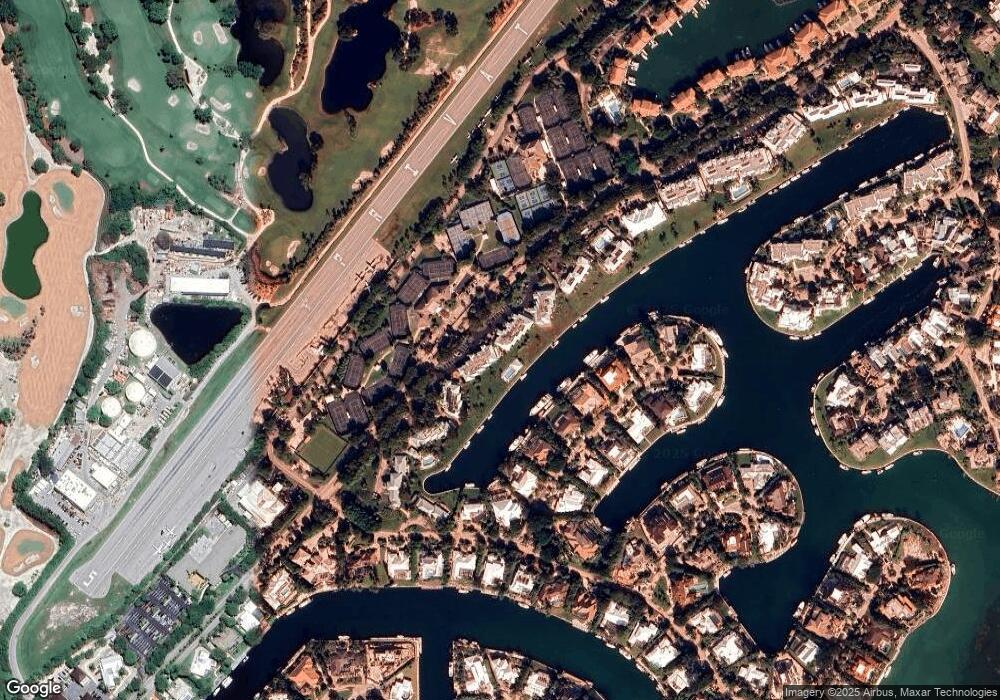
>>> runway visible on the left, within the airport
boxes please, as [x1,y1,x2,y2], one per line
[69,0,555,597]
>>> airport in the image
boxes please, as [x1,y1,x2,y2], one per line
[69,0,555,597]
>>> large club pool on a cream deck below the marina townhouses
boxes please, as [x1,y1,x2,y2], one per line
[600,93,628,121]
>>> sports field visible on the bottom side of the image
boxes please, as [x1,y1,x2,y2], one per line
[297,425,347,473]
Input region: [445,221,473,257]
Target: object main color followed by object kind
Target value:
gray sports court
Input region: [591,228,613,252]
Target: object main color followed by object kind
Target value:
white swimming pool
